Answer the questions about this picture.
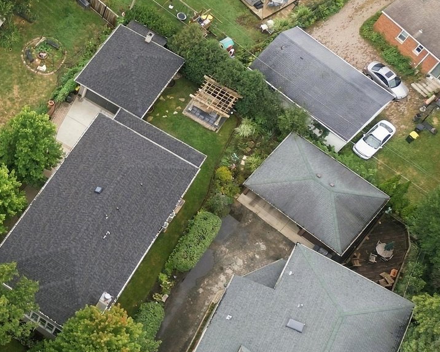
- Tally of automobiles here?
two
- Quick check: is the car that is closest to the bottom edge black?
No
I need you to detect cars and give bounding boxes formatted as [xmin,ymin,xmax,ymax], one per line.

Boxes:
[350,119,397,160]
[361,59,410,104]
